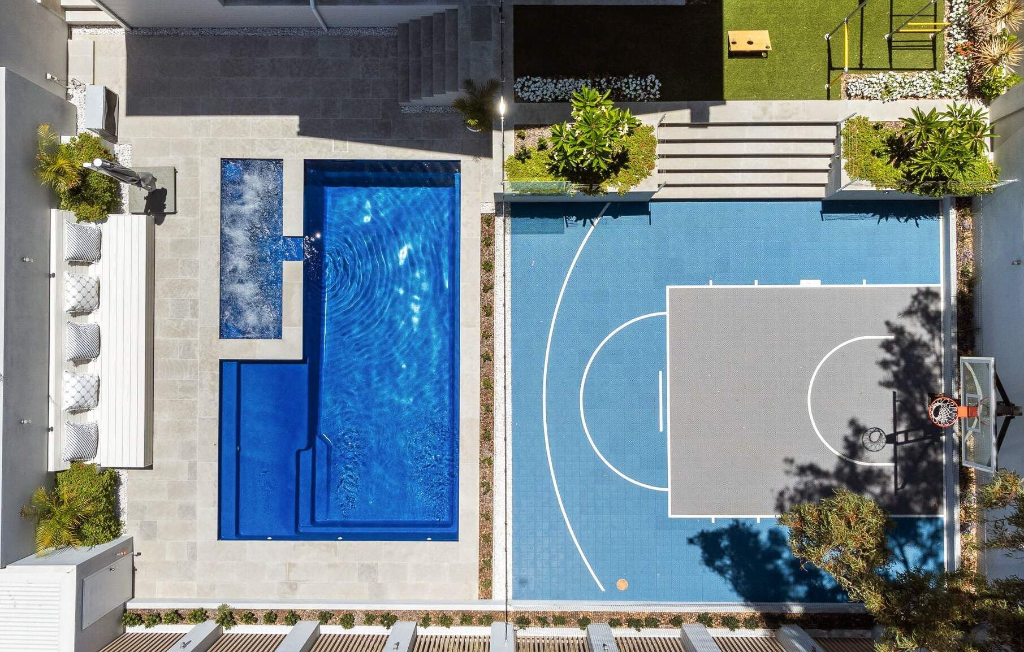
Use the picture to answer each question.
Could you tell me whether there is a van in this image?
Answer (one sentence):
No, the scene contains no van.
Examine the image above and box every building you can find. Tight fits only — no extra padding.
[4,537,134,652]
[89,0,243,32]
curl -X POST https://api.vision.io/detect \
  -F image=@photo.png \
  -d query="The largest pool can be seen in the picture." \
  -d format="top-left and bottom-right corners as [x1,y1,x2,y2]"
[221,160,460,540]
